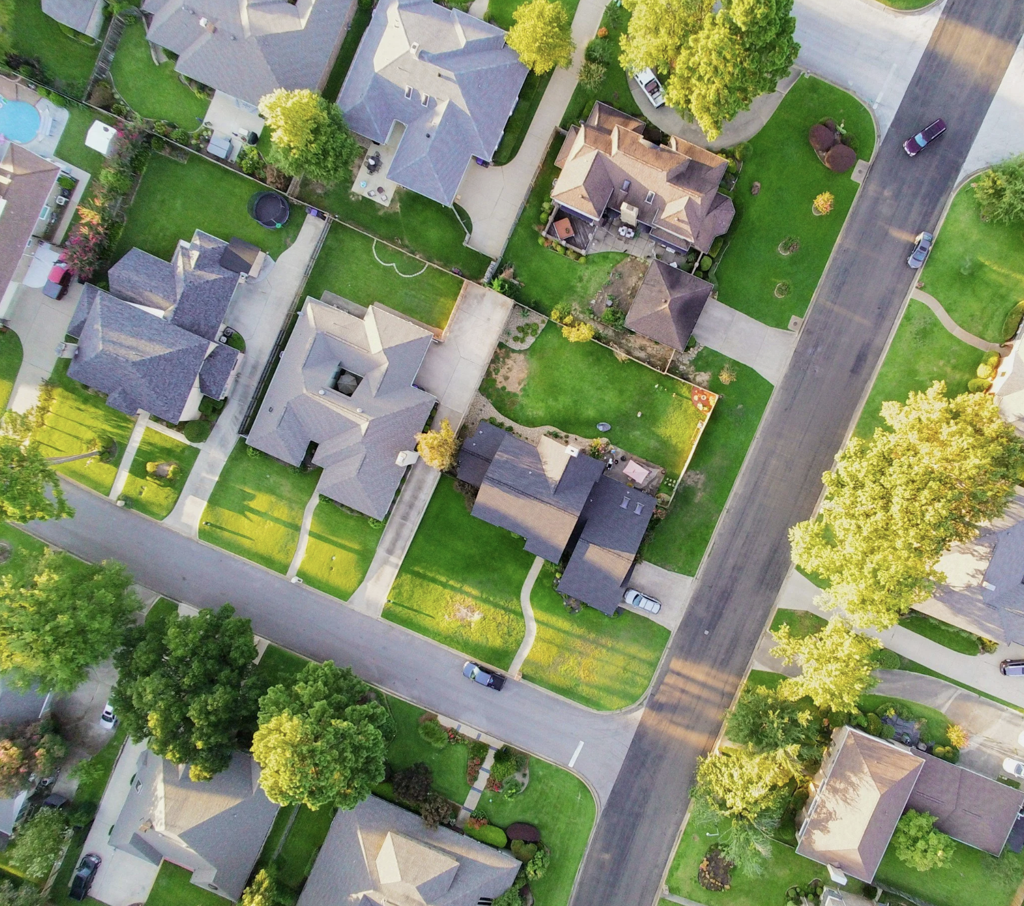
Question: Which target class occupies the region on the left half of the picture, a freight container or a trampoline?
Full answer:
You can see a trampoline on the left half of the picture.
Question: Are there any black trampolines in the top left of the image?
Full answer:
Yes, a black trampoline appears in the top left of the image.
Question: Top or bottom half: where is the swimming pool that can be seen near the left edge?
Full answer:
It is in the top half that the swimming pool that can be seen near the left edge appears.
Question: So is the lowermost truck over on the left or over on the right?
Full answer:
The lowermost truck appears in the left half of the scene.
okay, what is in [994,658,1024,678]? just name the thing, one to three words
car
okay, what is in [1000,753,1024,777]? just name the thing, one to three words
car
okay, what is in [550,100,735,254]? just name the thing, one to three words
house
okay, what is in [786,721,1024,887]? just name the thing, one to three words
house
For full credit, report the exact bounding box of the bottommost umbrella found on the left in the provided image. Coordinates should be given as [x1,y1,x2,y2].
[336,372,360,395]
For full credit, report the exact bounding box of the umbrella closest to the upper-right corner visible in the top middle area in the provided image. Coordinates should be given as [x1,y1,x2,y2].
[553,218,576,241]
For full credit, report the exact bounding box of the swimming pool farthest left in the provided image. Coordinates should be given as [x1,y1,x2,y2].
[0,95,51,145]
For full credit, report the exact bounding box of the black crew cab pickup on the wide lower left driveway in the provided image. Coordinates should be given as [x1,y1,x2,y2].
[68,848,104,904]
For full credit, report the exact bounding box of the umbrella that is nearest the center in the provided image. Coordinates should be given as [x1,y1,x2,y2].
[623,458,648,483]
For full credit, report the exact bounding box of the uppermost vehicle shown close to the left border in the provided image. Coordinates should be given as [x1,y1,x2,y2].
[47,261,76,301]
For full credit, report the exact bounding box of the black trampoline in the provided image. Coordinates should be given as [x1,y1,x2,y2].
[243,182,290,232]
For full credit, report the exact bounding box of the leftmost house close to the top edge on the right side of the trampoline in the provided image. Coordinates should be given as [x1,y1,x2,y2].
[334,0,532,210]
